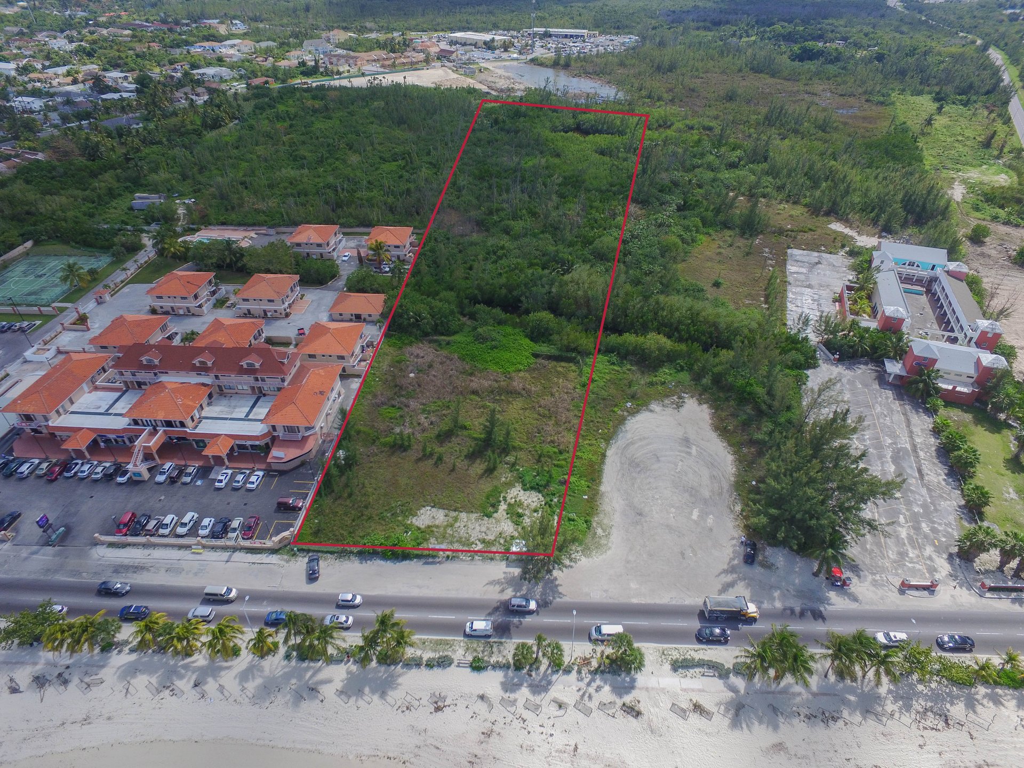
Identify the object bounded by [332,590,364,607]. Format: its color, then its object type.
white car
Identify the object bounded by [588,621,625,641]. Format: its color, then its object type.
white car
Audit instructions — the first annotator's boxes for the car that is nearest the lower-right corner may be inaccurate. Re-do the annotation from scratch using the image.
[935,631,979,650]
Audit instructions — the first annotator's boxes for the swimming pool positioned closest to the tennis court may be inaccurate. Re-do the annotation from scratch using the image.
[179,230,267,246]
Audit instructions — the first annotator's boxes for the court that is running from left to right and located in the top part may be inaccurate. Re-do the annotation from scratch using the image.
[0,255,113,304]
